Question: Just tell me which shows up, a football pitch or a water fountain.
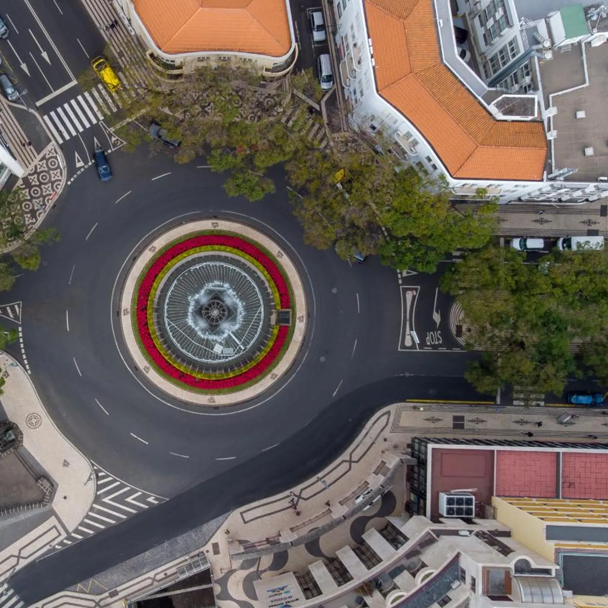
water fountain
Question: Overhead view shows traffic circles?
Yes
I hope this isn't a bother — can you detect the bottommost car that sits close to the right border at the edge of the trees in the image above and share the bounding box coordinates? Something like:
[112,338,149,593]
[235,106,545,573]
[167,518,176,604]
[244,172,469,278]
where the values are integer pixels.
[565,390,605,409]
